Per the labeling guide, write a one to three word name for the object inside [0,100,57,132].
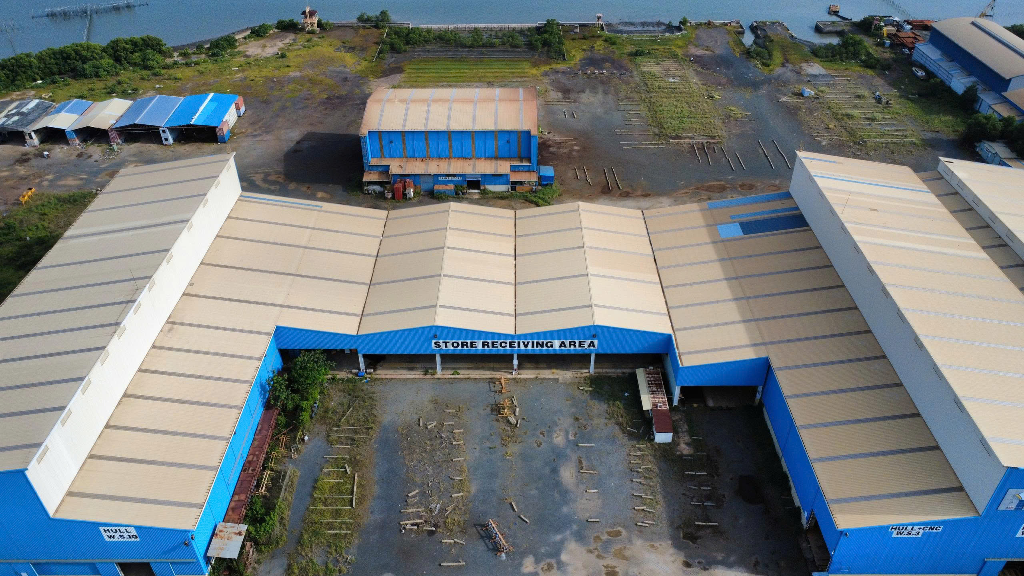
shed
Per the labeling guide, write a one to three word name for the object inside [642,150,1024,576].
building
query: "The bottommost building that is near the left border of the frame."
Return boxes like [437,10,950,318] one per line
[0,152,325,576]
